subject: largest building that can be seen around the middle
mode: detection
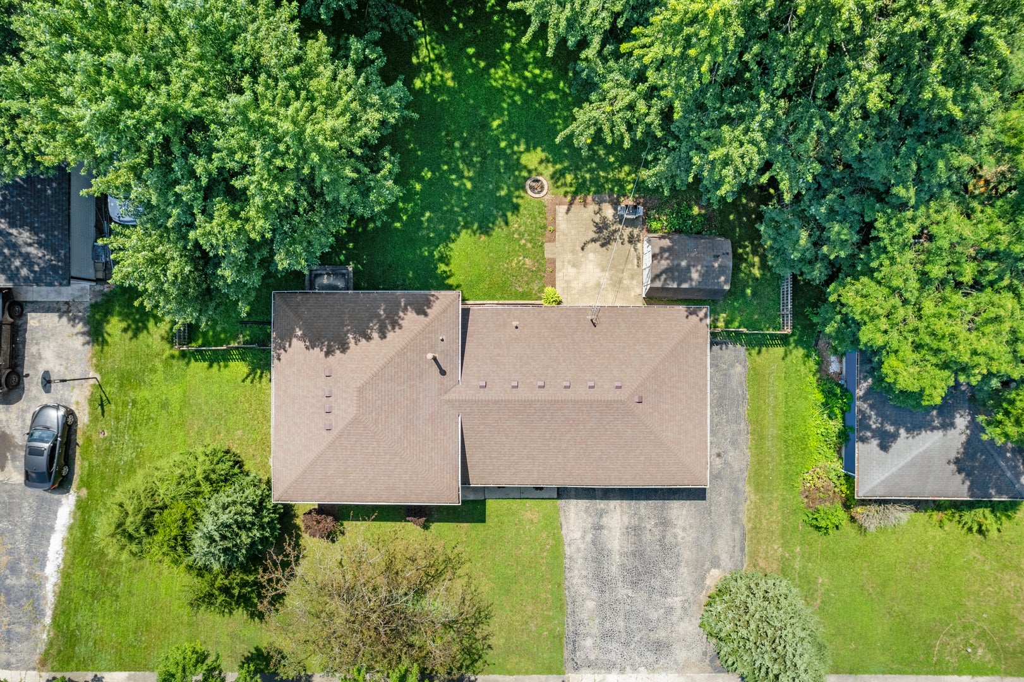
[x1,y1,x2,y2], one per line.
[272,291,710,505]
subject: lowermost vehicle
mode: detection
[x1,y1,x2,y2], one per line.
[22,401,74,491]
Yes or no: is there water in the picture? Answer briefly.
No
